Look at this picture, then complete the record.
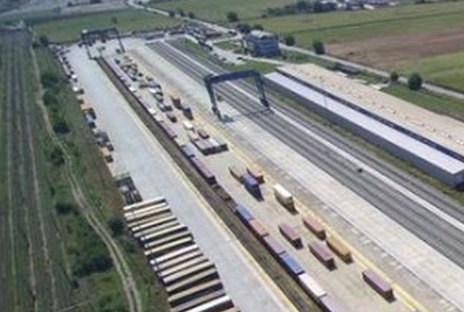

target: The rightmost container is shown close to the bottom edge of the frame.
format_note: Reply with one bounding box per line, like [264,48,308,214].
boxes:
[363,269,393,299]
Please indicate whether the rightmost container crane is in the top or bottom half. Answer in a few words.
top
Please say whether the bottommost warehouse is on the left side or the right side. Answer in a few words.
right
